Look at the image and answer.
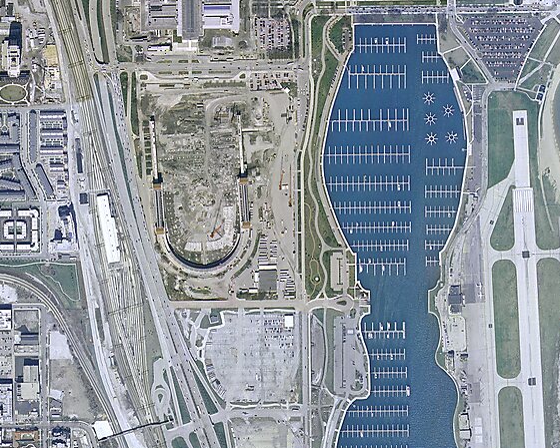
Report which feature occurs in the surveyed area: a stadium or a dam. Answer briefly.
stadium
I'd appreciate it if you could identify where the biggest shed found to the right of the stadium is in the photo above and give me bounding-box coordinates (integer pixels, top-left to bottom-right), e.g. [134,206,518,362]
[259,270,276,291]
